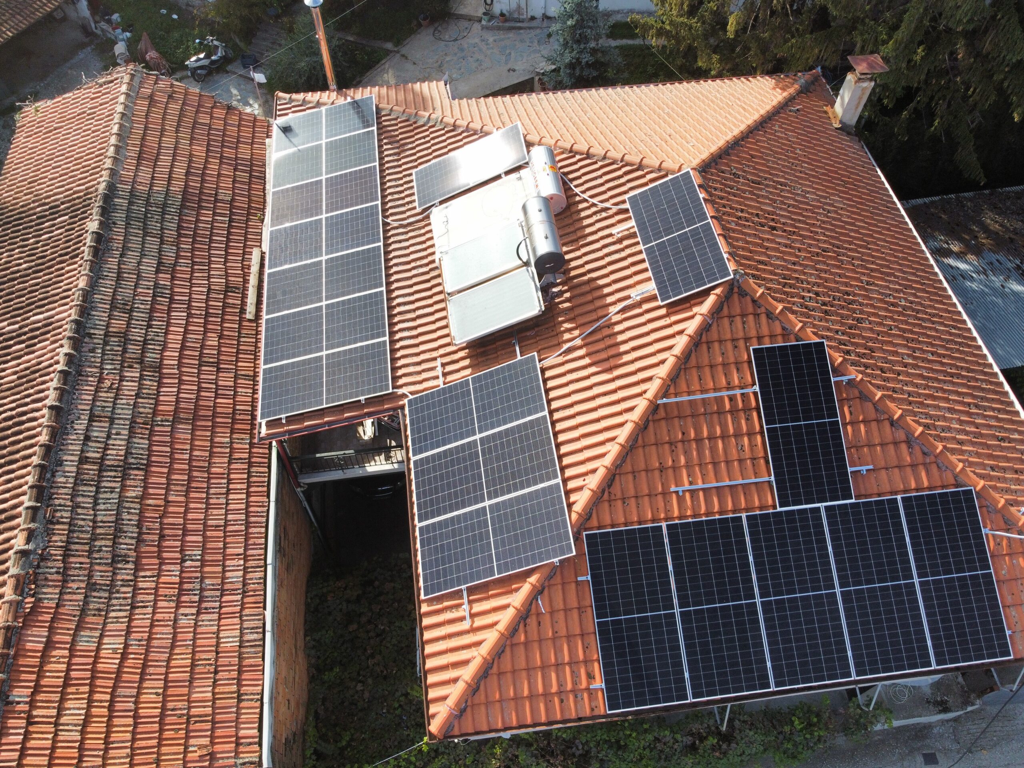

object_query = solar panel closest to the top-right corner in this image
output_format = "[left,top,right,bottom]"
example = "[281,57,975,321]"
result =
[627,169,733,306]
